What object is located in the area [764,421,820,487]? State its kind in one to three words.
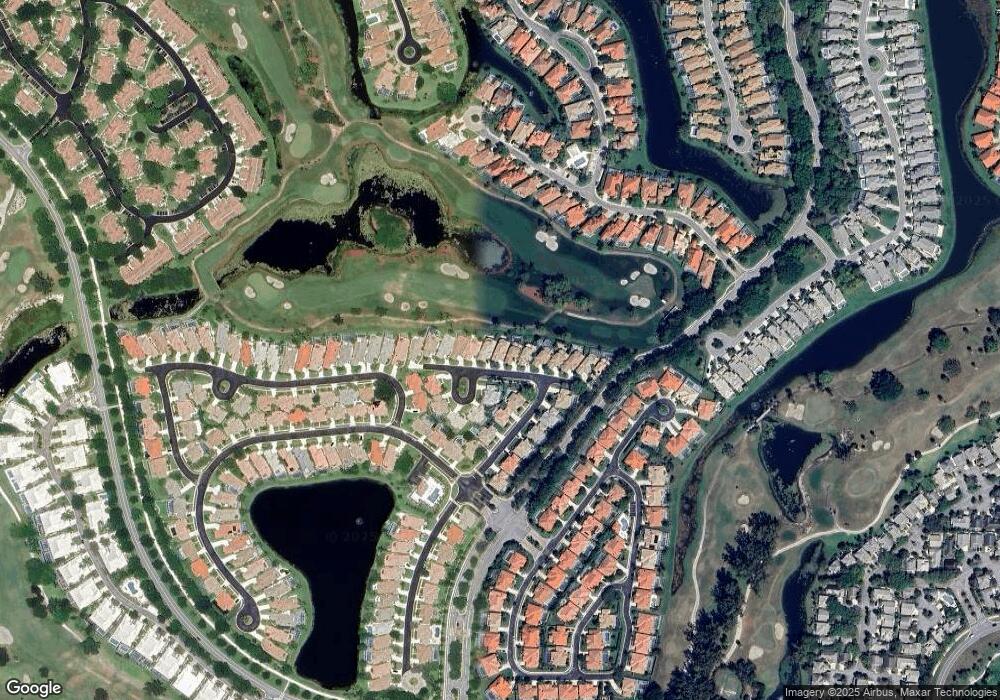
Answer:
pond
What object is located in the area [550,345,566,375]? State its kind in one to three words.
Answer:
house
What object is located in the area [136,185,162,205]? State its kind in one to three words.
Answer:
building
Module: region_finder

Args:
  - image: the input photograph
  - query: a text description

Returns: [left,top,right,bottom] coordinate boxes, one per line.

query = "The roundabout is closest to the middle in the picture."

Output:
[451,372,479,404]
